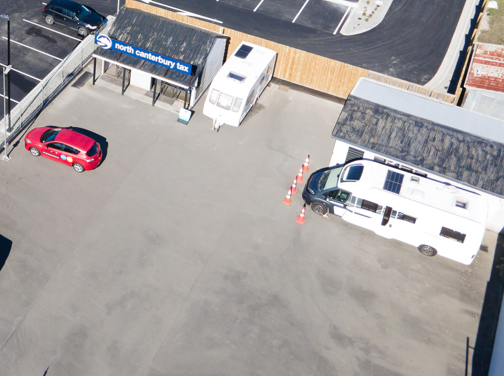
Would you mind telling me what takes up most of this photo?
paved ground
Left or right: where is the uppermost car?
left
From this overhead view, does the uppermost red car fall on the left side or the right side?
left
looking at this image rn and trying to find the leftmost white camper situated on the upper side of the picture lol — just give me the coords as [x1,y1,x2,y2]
[206,46,276,139]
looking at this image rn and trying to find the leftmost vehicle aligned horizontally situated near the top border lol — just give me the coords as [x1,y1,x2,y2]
[39,0,105,31]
